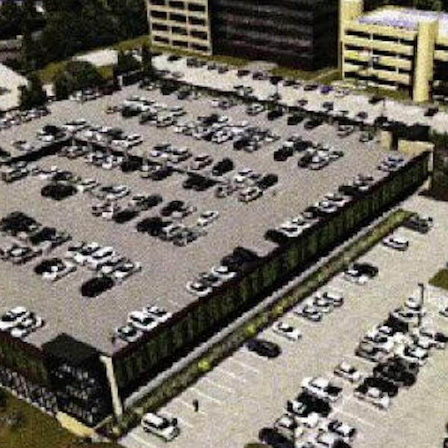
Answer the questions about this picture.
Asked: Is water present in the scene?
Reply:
No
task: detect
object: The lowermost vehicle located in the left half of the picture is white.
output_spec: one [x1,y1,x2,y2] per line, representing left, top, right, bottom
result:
[141,411,180,441]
